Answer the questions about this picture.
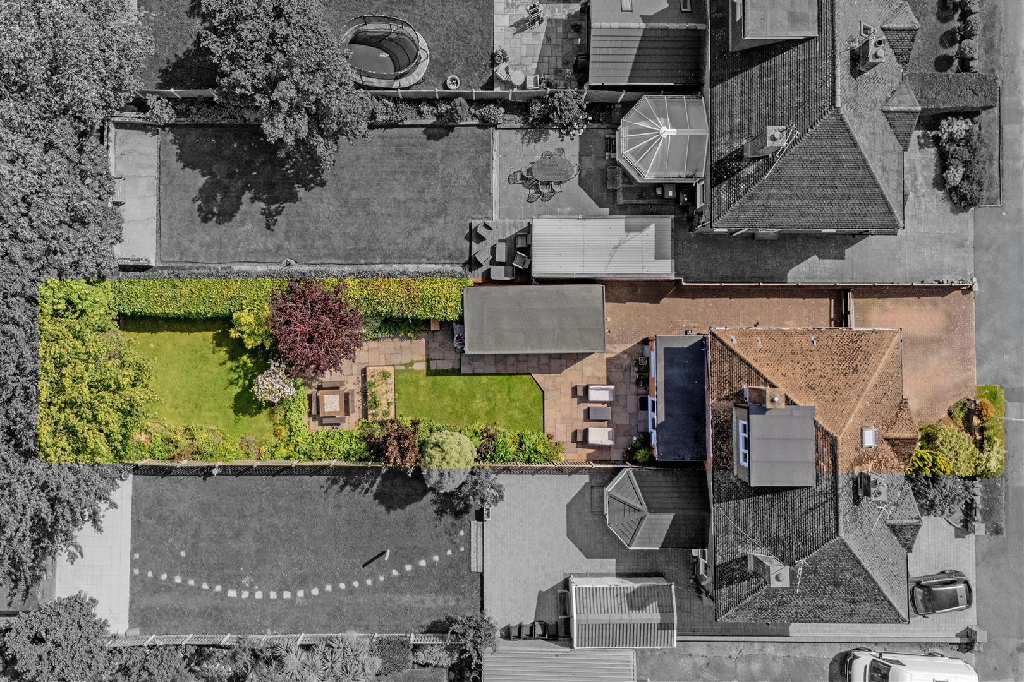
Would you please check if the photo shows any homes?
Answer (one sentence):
Yes, I can see a home in this picture.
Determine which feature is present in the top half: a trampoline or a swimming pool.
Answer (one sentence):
What appears in the top half is a trampoline.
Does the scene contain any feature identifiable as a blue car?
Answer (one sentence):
No, there is no blue car in the image.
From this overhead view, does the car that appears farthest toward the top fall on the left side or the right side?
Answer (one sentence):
The car that appears farthest toward the top appears in the right half of the scene.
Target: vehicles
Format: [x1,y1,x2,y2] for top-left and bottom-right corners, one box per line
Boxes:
[843,643,970,682]
[908,567,975,621]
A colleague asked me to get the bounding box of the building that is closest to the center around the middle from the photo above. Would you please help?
[464,283,610,354]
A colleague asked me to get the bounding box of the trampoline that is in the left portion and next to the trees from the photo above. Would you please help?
[339,11,429,89]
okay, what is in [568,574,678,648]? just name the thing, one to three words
building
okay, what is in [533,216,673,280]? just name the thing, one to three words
building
